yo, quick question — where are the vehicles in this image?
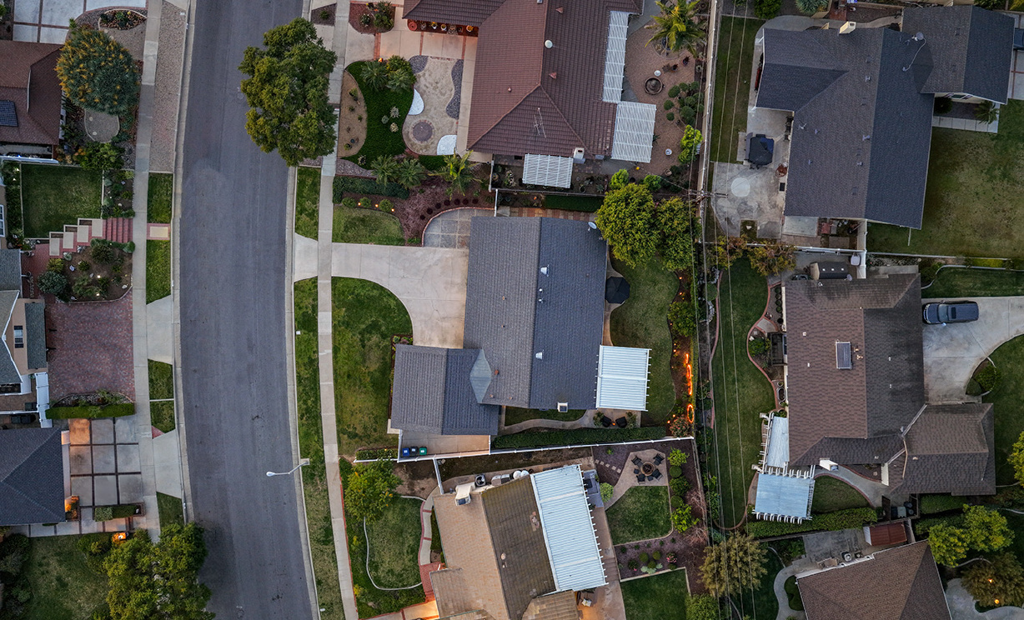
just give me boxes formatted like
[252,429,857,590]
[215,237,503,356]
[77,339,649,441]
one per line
[1012,28,1024,52]
[923,299,979,325]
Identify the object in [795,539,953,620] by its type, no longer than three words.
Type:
house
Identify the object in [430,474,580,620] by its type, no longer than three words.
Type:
house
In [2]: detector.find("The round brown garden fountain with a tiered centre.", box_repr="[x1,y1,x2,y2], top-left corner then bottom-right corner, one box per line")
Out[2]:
[645,75,664,94]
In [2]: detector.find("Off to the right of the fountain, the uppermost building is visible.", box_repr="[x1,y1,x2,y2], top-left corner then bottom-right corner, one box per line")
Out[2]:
[755,4,1015,230]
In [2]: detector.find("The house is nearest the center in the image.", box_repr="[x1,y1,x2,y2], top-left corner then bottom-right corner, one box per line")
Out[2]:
[391,216,606,435]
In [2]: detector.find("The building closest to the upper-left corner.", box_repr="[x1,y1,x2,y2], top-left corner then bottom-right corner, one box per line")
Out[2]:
[0,40,68,145]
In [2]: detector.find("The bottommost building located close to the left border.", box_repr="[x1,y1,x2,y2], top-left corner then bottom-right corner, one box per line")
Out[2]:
[0,427,72,524]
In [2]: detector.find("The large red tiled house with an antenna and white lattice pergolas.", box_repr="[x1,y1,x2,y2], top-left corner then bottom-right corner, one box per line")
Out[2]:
[402,0,643,166]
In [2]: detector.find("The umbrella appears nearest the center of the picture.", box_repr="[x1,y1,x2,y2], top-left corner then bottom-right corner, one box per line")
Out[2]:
[604,278,629,303]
